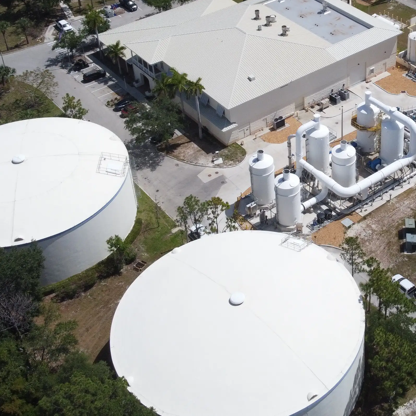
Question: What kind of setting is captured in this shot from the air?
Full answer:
The area seen from above is an industrial area.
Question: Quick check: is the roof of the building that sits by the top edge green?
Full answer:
No, the roof of the building that sits by the top edge is white.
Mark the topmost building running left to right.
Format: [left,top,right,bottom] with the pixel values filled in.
[99,0,406,147]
